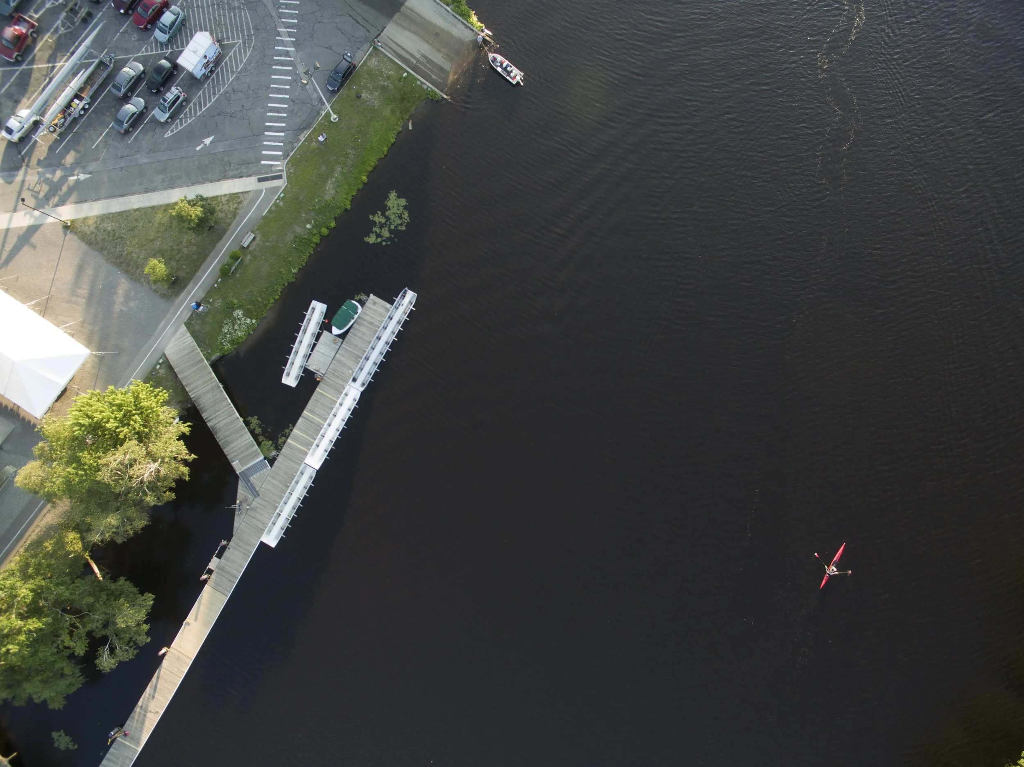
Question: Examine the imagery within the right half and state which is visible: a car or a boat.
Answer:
boat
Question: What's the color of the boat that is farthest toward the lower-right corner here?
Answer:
red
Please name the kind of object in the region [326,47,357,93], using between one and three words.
car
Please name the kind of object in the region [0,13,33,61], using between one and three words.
car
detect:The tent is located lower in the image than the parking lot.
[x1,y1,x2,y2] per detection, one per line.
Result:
[0,275,121,421]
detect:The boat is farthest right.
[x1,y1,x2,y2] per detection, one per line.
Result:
[815,543,850,589]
